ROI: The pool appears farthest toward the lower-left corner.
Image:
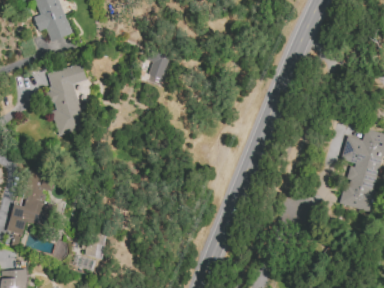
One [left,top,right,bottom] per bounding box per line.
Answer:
[26,235,55,254]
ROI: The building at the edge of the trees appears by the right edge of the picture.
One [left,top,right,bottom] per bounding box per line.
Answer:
[341,130,384,212]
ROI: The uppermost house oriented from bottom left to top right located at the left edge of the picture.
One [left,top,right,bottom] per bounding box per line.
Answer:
[7,173,52,234]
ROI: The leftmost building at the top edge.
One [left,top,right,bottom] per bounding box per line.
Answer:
[34,0,73,44]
